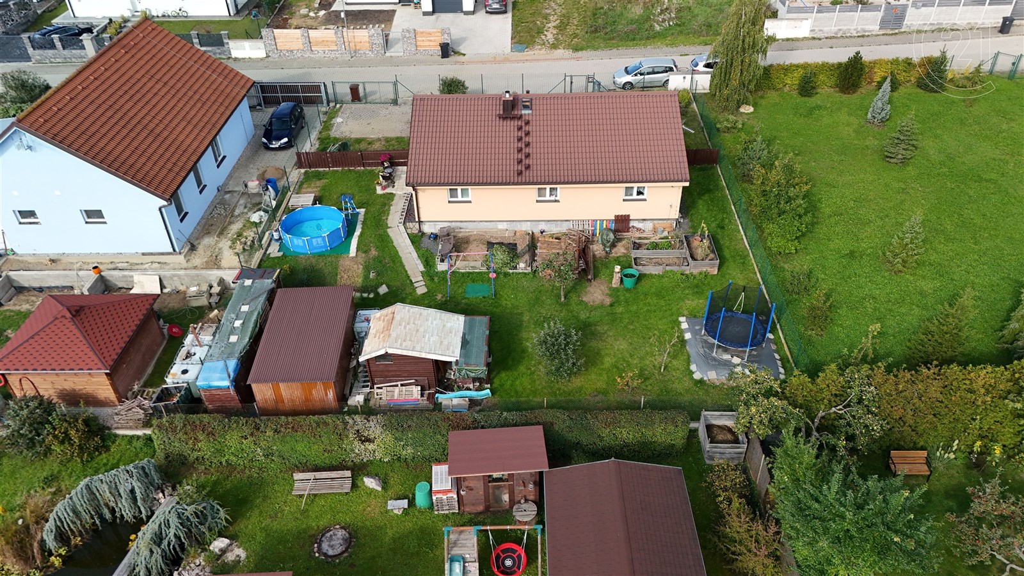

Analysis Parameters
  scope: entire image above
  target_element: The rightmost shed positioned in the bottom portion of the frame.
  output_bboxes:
[541,450,709,576]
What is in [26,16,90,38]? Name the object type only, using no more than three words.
car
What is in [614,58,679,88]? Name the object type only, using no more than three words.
car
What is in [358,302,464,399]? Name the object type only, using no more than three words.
shed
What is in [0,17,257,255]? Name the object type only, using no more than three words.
house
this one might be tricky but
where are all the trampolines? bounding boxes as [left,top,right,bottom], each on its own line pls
[700,273,782,362]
